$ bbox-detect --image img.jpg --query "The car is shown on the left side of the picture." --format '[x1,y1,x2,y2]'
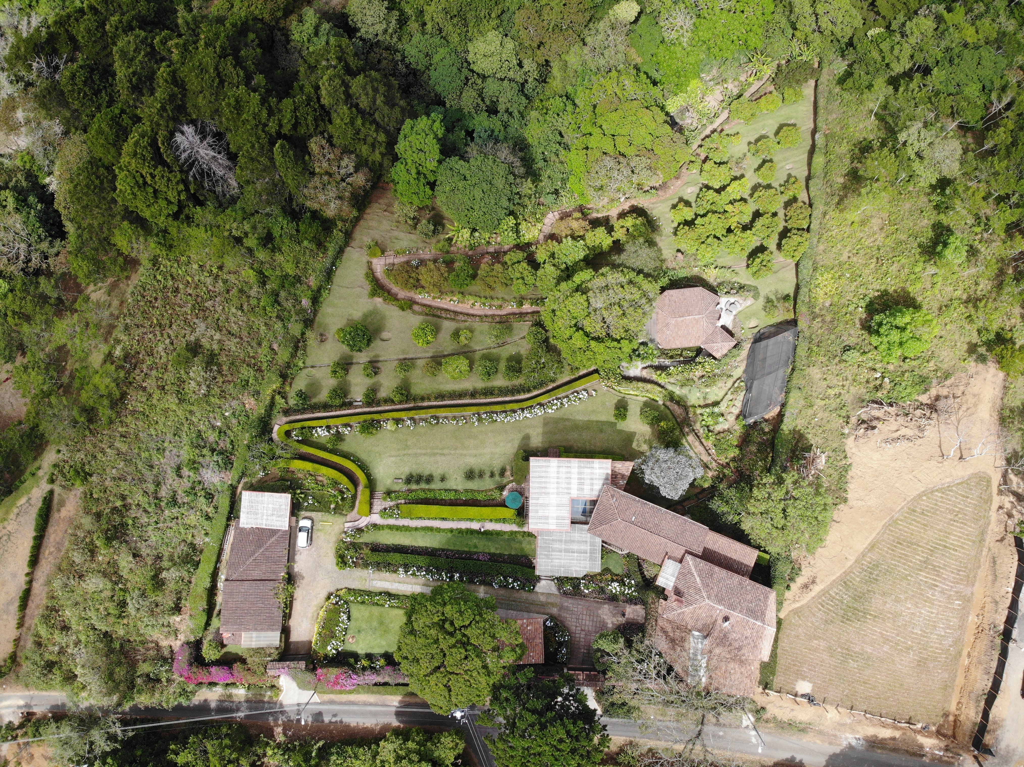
[297,518,313,549]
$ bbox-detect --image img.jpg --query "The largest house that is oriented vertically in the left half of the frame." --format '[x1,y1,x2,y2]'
[220,488,298,648]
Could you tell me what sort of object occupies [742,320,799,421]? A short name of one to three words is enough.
house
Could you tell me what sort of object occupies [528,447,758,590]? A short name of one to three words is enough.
house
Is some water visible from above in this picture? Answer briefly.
No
